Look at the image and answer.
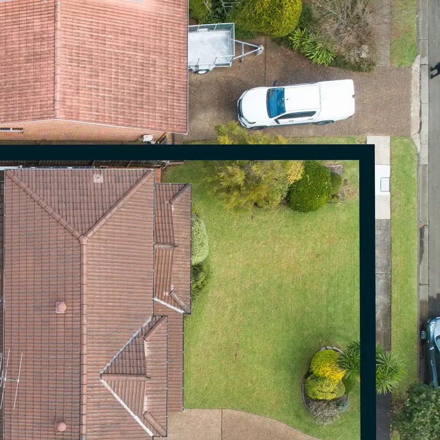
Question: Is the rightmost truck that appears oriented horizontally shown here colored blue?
No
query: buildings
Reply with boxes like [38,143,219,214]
[0,166,194,440]
[0,0,191,141]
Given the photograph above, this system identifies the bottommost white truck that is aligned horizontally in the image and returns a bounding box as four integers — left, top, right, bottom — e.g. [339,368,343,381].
[234,81,356,132]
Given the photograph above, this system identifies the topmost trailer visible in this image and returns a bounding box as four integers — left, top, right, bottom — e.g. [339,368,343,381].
[191,21,263,75]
